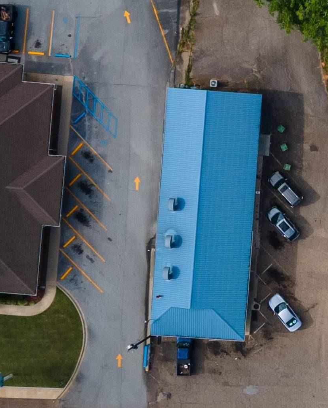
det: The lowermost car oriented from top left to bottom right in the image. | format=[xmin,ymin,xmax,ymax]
[268,293,303,332]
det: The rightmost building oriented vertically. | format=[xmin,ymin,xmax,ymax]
[149,87,267,342]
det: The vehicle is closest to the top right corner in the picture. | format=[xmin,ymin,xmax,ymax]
[269,171,305,208]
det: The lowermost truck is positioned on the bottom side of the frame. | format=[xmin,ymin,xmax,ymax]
[173,338,195,377]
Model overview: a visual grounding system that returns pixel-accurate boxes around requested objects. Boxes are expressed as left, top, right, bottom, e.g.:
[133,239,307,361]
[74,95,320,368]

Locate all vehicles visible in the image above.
[0,3,17,55]
[268,293,303,332]
[267,206,301,242]
[269,171,305,208]
[173,338,195,377]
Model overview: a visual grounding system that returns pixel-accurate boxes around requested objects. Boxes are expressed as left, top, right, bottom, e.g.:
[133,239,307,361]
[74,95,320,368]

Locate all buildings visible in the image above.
[0,56,70,297]
[149,87,267,342]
